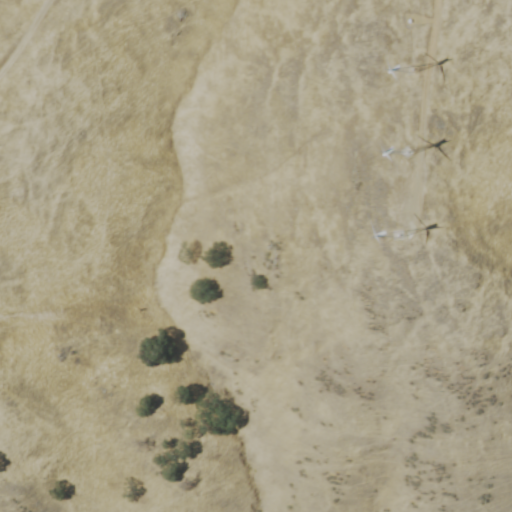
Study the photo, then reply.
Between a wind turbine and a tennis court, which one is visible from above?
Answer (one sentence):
There is a wind turbine in the scene.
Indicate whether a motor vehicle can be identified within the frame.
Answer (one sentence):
No, I can see no motor vehicle in this picture.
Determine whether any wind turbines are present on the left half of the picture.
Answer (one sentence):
No, there is no wind turbine on the left half of the picture.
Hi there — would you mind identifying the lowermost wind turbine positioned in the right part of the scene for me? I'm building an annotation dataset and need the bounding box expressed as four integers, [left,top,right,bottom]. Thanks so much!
[370,227,402,250]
